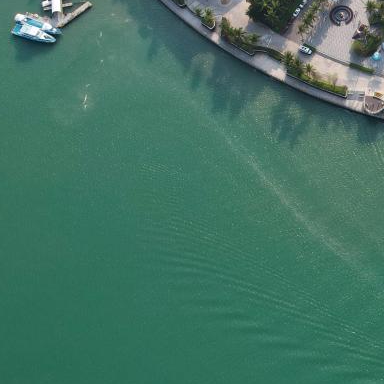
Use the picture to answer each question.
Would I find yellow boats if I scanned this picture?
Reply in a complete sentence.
No, the photo shows no yellow boat.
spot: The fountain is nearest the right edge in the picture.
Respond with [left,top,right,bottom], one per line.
[329,3,354,24]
